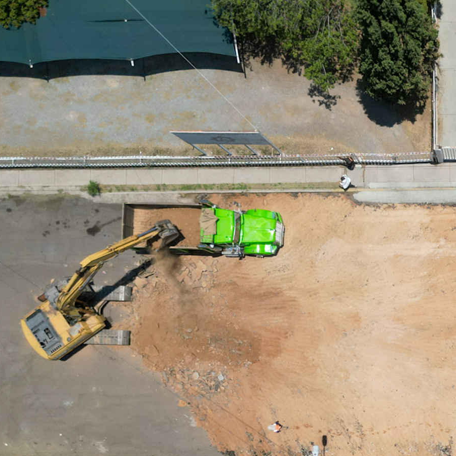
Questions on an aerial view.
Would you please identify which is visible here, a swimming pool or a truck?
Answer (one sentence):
This aerial view contains a truck.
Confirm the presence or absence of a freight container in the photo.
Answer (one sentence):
No, I find no freight container anywhere in the image.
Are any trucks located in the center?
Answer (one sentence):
Yes, a truck appears in the center.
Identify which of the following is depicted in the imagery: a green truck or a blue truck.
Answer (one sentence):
There is a green truck in the scene.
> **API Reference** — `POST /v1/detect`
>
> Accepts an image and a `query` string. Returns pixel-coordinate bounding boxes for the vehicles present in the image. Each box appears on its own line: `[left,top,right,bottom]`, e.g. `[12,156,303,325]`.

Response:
[22,221,174,359]
[122,202,288,259]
